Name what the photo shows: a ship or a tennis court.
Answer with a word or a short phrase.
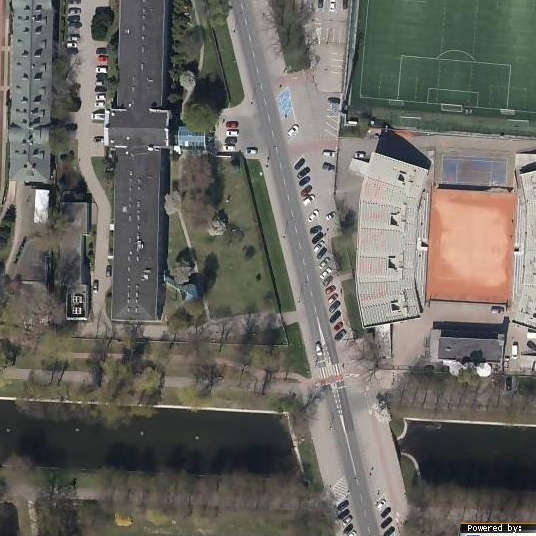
tennis court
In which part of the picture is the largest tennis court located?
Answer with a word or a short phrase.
right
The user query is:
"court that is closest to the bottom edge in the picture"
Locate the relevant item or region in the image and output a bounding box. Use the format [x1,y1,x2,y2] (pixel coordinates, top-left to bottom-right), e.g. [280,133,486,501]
[427,189,516,305]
